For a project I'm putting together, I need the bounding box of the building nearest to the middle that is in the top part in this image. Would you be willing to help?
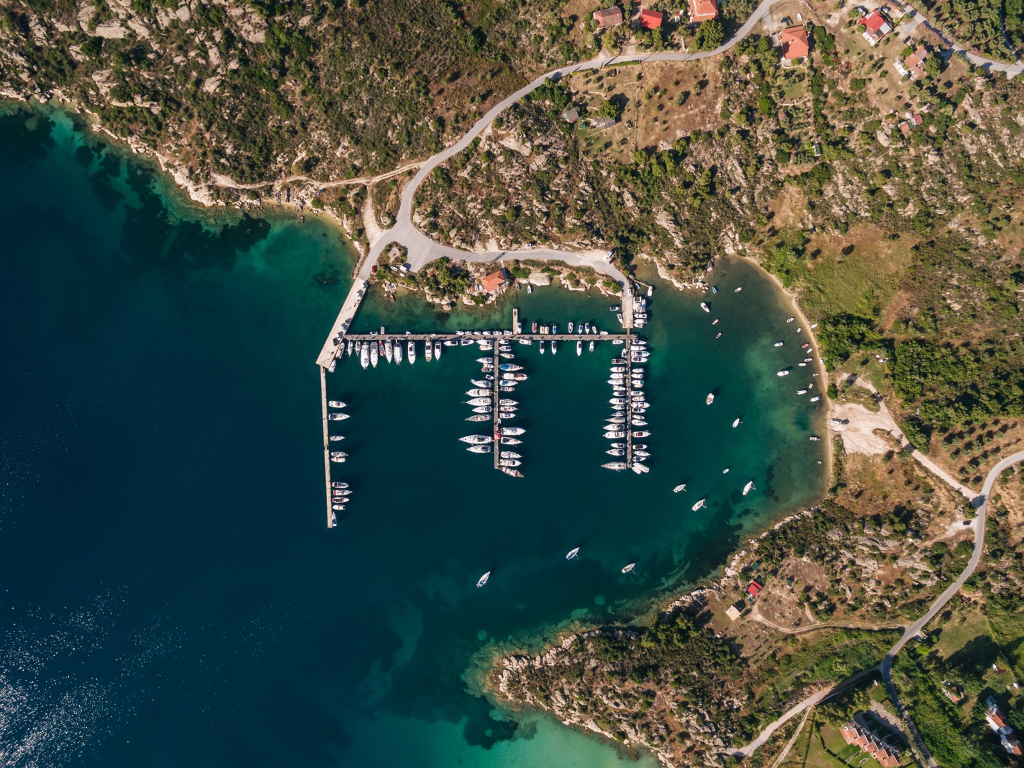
[480,271,504,292]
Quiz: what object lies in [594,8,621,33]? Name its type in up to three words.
house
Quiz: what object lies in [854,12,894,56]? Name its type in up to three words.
house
